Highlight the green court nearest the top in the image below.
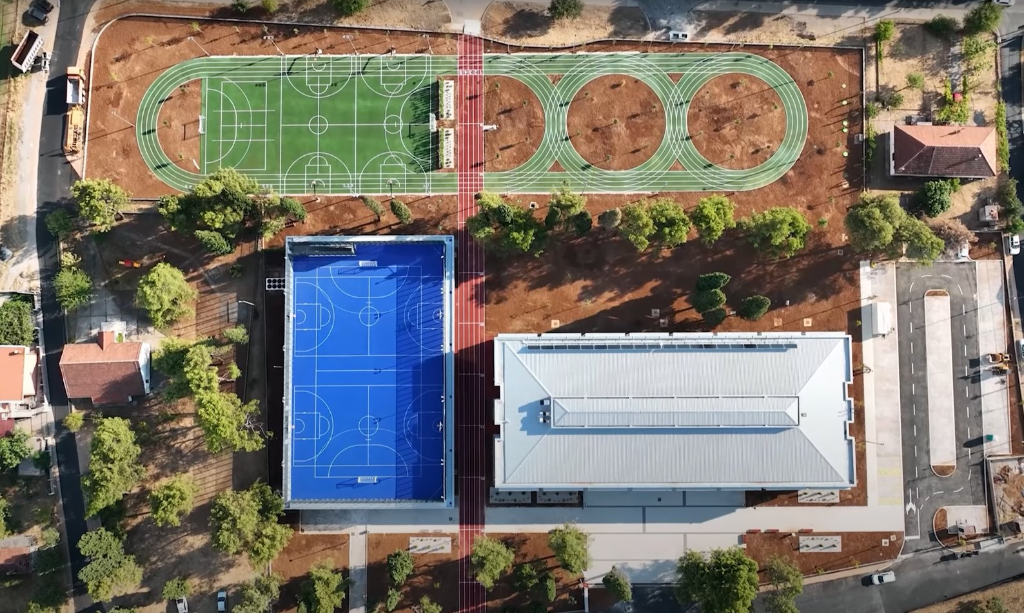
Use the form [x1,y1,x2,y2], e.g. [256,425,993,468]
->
[201,54,437,193]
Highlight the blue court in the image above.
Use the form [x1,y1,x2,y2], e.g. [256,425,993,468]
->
[293,243,446,501]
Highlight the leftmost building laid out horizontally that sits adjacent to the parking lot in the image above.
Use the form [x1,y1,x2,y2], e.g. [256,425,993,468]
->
[493,331,857,489]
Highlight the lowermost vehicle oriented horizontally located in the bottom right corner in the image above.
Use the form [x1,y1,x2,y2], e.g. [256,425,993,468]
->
[868,571,897,585]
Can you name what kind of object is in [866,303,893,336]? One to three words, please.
building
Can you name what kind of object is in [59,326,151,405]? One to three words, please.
house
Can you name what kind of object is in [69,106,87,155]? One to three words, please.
vehicle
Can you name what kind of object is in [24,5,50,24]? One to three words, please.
car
